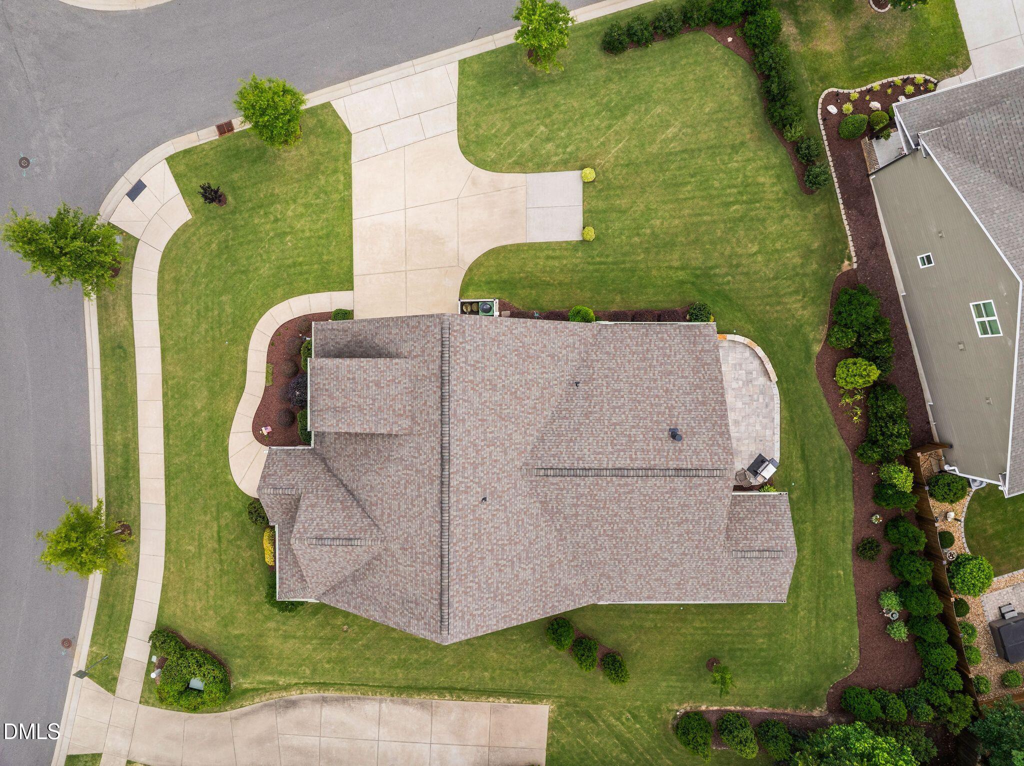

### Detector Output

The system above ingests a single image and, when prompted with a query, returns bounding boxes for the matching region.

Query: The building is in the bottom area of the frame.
[259,314,795,644]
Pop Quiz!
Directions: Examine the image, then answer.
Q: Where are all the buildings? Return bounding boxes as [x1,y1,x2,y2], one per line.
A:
[259,314,795,644]
[860,67,1024,498]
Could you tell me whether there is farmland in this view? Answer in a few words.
No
